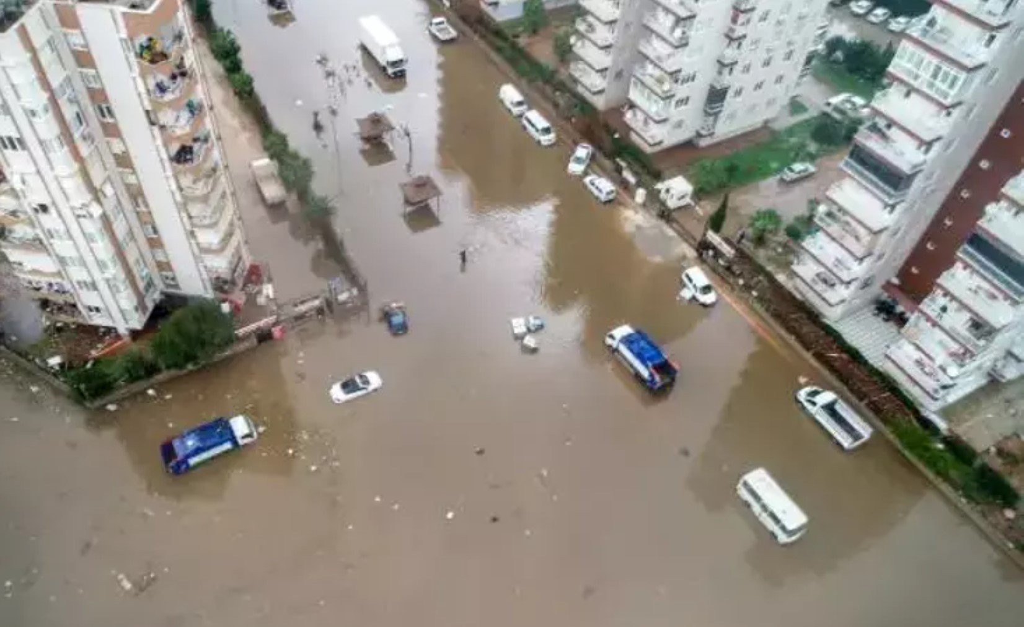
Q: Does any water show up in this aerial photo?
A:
Yes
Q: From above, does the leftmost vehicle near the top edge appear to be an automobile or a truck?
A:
truck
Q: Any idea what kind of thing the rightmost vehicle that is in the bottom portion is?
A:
truck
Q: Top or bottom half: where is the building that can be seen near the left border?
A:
top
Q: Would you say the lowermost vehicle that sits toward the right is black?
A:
No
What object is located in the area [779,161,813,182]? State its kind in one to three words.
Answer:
car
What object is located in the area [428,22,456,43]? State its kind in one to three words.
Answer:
truck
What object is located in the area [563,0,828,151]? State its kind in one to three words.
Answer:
building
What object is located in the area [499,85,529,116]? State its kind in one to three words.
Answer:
vehicle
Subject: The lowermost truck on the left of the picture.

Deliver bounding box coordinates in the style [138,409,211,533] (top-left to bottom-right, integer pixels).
[157,416,253,481]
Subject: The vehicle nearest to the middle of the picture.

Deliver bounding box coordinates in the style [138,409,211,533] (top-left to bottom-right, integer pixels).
[382,306,410,337]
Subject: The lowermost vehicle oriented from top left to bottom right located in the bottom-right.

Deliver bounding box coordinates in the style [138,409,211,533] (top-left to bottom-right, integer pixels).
[736,472,804,544]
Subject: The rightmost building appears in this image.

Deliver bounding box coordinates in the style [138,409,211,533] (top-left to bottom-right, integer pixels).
[782,0,1024,411]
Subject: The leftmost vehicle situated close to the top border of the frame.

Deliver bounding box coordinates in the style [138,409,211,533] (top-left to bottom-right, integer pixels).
[359,20,408,76]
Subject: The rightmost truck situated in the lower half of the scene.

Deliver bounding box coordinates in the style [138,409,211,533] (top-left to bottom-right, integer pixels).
[802,390,872,451]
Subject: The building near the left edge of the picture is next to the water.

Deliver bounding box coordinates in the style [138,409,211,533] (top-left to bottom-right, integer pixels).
[0,0,263,353]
